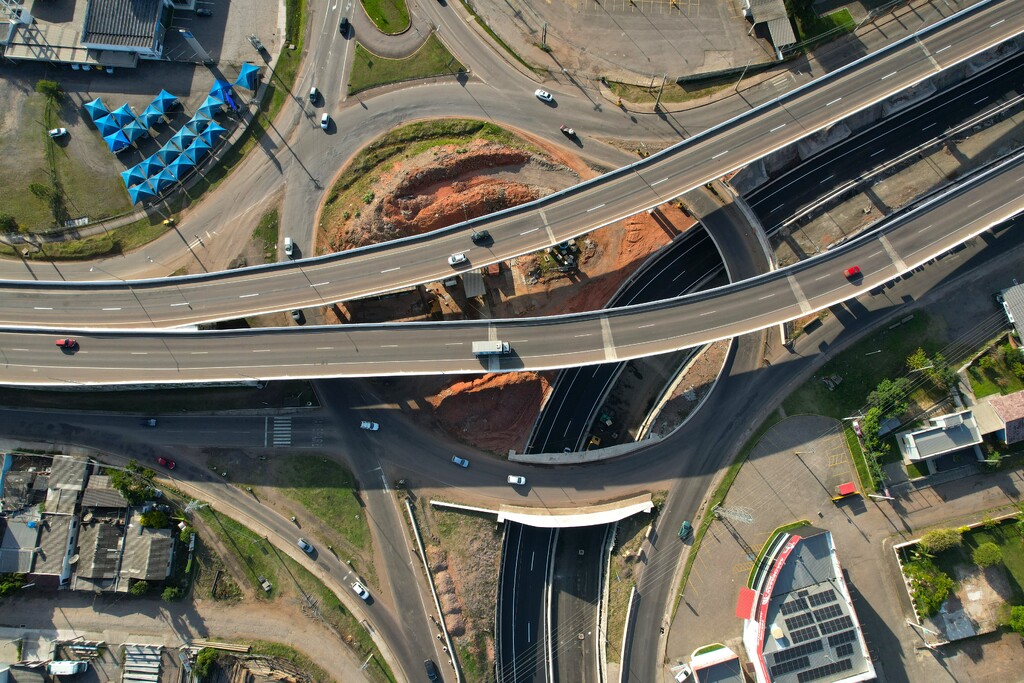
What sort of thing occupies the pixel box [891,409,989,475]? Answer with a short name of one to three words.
house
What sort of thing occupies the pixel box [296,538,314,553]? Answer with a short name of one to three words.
car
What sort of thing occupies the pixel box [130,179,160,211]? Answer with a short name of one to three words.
tent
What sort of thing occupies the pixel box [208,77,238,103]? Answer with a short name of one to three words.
tent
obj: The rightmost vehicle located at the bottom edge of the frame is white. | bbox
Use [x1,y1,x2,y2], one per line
[675,662,692,680]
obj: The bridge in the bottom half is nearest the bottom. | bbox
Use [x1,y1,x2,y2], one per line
[496,433,664,527]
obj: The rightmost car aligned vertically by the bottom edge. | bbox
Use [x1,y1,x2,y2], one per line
[425,660,437,682]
